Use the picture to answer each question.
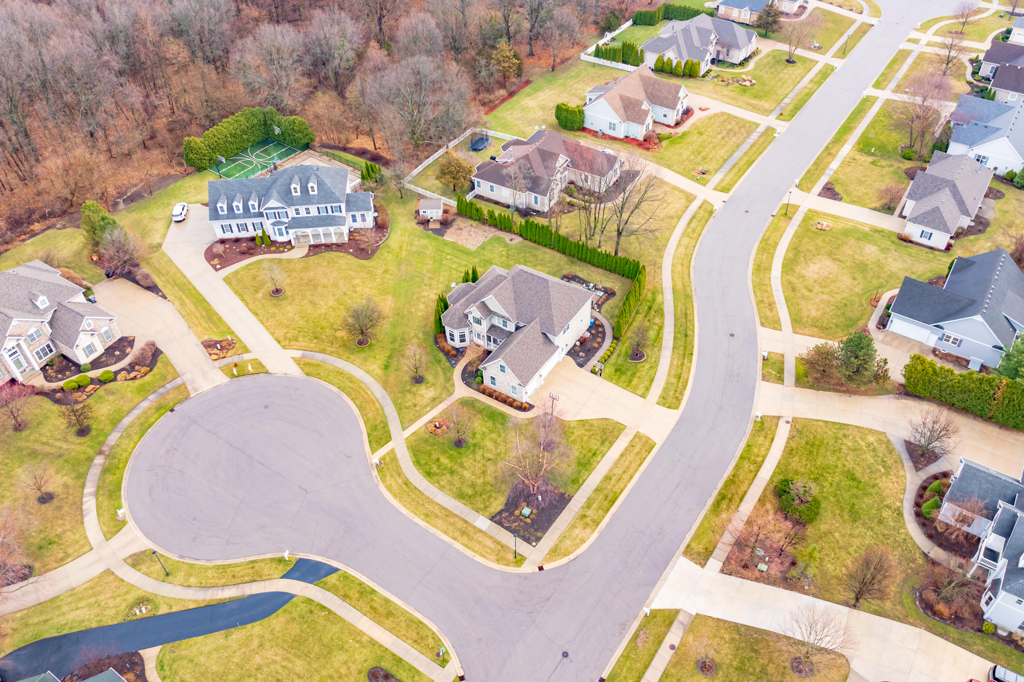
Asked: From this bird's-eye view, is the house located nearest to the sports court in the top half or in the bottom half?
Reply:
top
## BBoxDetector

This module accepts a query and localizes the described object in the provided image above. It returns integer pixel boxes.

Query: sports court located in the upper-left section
[209,140,302,180]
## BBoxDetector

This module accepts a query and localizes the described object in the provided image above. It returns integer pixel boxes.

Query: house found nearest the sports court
[209,165,373,250]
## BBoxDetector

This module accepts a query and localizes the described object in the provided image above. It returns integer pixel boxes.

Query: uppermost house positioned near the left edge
[0,257,123,380]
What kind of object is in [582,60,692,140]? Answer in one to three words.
house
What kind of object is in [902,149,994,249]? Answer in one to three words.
house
